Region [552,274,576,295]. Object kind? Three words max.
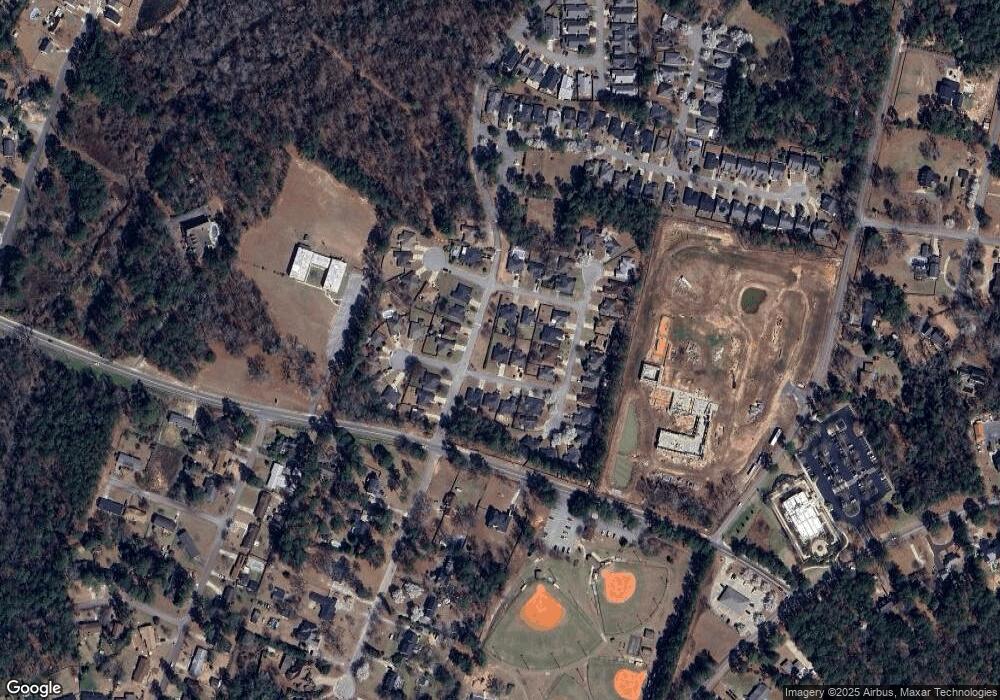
house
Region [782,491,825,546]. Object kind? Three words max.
building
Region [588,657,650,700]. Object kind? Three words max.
baseball field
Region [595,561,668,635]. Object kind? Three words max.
baseball field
